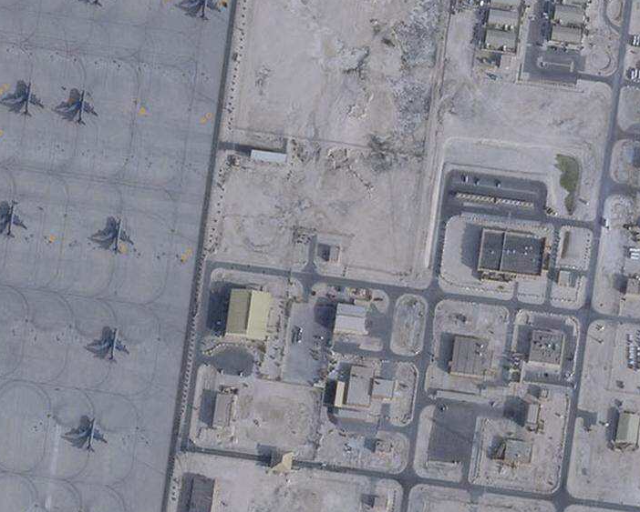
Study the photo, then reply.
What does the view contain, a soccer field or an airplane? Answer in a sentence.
Of the two, only an airplane appears.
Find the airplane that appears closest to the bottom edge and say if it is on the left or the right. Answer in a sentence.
The airplane that appears closest to the bottom edge appears in the left half of the scene.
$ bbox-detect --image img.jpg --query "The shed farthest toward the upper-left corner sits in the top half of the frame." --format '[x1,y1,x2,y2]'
[251,150,287,163]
